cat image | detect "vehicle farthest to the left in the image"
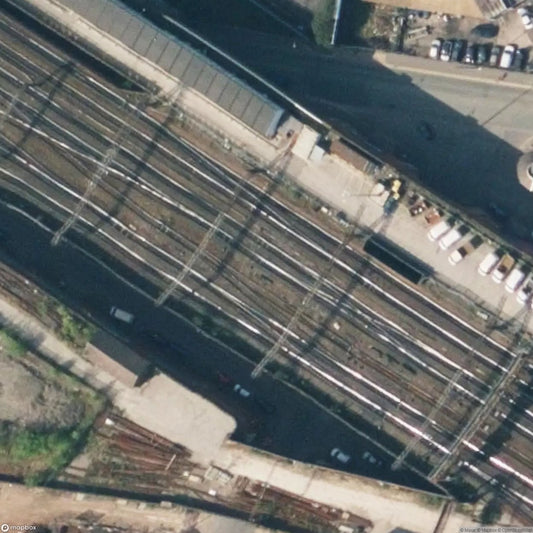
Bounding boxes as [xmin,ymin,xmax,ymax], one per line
[109,308,134,323]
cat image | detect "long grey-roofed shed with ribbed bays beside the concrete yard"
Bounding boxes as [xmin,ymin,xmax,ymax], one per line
[61,0,287,140]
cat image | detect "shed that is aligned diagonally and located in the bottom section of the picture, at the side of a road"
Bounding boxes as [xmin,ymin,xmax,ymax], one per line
[84,326,152,387]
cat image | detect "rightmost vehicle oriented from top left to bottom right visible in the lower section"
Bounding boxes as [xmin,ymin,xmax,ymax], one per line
[362,452,380,466]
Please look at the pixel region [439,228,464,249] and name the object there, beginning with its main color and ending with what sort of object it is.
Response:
white vehicle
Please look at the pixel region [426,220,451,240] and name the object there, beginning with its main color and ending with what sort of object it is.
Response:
white vehicle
